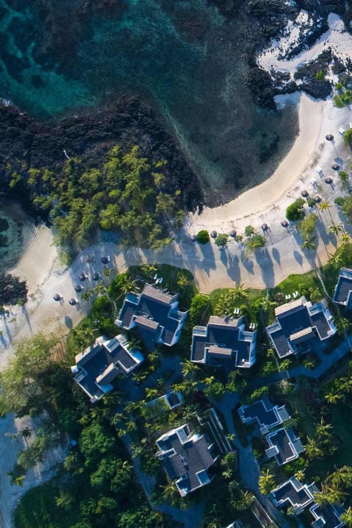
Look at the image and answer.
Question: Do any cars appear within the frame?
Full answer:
No, no car can be seen from above.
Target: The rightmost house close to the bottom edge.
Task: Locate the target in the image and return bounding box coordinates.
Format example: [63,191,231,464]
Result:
[310,496,346,528]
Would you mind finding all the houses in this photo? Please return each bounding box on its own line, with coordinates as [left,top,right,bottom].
[271,474,321,515]
[265,425,306,466]
[164,390,185,410]
[265,296,339,360]
[242,395,291,435]
[115,287,192,352]
[76,334,153,405]
[153,419,218,497]
[188,313,260,369]
[310,496,346,528]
